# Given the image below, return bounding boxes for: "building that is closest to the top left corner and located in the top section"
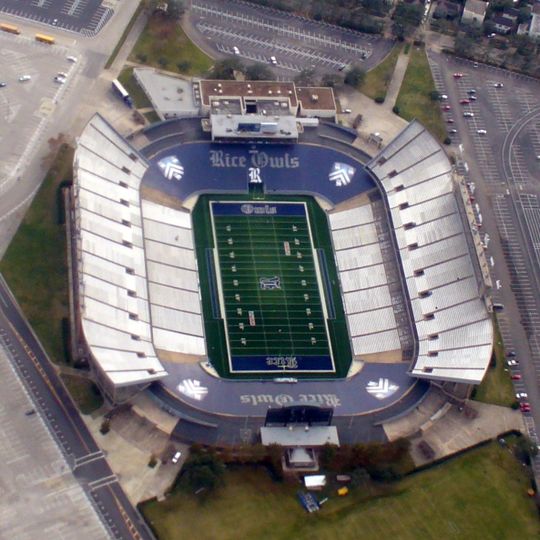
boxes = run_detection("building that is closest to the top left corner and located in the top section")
[133,67,198,119]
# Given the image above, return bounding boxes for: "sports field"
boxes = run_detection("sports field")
[193,194,353,380]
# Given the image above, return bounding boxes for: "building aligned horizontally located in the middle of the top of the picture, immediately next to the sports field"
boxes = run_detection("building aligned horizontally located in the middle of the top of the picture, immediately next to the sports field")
[193,80,335,144]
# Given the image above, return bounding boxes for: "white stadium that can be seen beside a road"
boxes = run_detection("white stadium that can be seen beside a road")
[65,109,499,447]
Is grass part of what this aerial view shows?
Yes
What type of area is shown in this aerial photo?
sports ground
